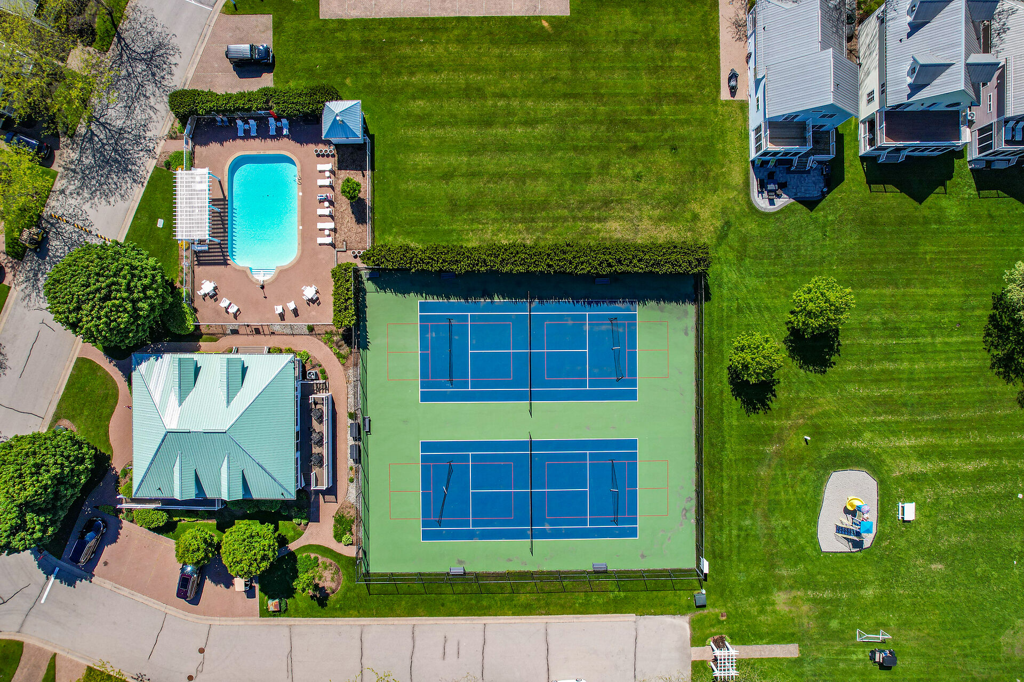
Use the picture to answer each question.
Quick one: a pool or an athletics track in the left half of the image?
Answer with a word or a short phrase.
pool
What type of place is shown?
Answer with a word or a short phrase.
residential area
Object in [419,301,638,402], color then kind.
blue tennis court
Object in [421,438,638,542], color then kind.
blue tennis court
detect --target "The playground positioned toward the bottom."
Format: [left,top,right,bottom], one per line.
[834,495,873,542]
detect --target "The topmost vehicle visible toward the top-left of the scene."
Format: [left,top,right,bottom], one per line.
[227,43,273,67]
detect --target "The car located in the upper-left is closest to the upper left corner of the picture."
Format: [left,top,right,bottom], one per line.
[7,128,56,164]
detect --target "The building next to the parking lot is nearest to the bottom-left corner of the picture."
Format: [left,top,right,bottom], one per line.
[129,351,308,503]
